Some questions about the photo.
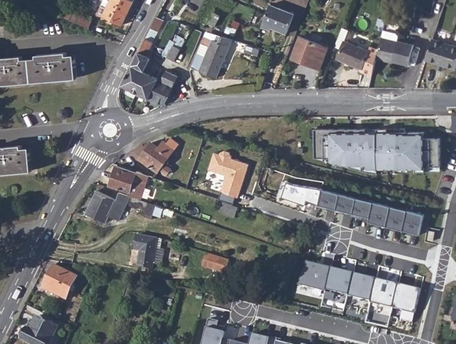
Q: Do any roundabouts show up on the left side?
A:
Yes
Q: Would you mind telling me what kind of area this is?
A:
residential area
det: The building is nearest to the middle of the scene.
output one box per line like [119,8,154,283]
[208,151,249,217]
